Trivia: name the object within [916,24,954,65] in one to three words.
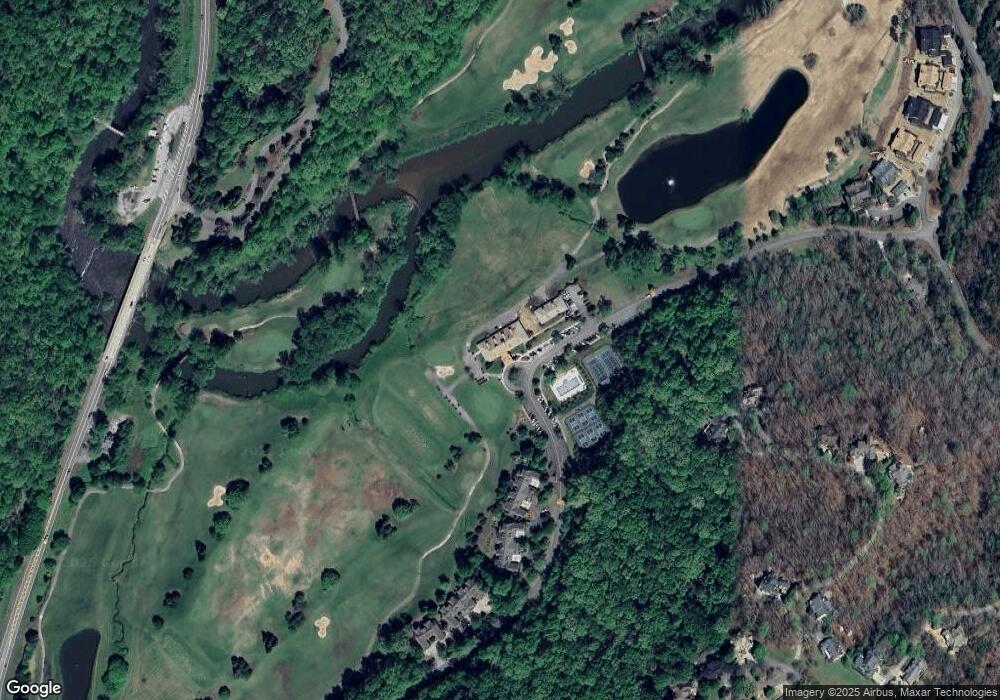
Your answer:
house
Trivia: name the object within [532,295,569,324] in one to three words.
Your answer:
building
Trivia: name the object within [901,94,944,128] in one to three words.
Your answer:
house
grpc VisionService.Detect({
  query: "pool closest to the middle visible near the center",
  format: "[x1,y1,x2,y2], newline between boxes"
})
[552,367,586,402]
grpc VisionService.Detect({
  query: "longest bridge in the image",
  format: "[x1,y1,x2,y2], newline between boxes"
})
[106,226,165,348]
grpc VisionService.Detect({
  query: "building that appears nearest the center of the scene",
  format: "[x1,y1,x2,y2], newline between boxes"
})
[477,320,530,368]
